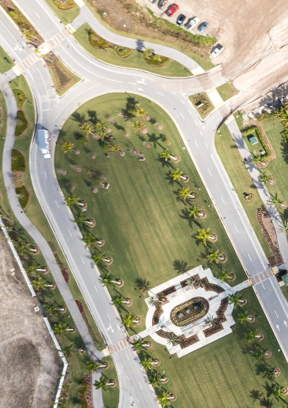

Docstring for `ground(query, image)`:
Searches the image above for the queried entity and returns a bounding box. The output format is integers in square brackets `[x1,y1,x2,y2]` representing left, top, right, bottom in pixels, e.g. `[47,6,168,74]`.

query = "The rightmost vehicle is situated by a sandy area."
[211,43,225,57]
